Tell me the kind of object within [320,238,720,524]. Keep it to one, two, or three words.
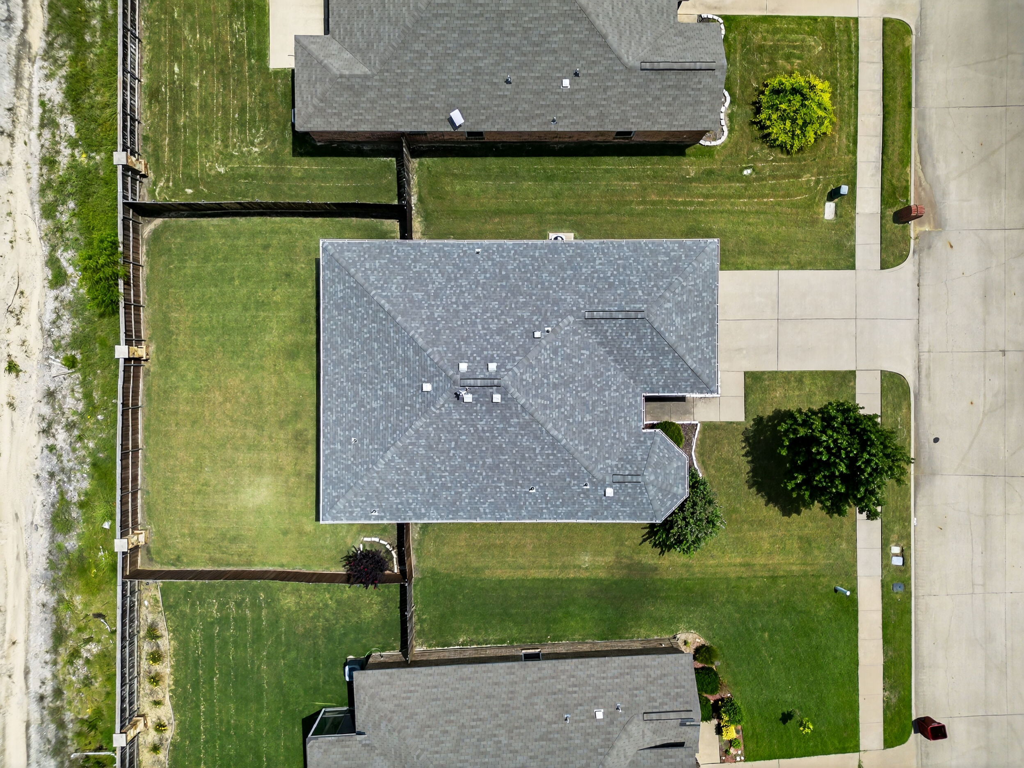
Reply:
house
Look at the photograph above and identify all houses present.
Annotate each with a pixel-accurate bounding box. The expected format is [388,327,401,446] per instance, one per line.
[320,238,720,524]
[294,0,729,141]
[306,637,707,768]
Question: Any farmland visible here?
No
